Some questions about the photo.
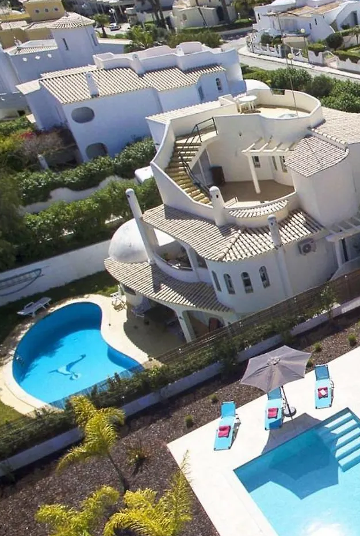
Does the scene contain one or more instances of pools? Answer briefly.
Yes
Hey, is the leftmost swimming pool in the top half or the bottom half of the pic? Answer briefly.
bottom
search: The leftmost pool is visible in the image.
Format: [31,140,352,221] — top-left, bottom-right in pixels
[3,298,154,411]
